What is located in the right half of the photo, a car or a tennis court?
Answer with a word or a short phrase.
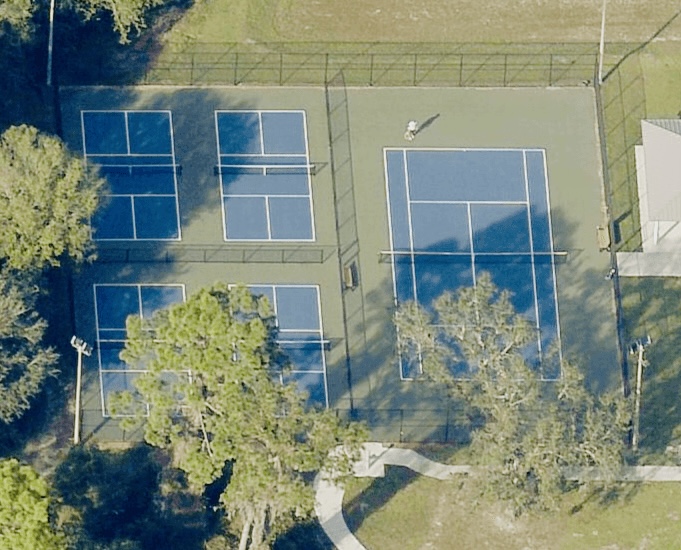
tennis court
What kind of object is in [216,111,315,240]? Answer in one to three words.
sports court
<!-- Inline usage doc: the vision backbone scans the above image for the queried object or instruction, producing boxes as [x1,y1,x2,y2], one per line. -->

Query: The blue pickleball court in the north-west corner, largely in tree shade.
[82,110,180,239]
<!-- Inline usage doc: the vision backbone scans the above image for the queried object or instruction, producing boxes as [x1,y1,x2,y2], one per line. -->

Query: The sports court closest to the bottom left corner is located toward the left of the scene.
[94,285,194,416]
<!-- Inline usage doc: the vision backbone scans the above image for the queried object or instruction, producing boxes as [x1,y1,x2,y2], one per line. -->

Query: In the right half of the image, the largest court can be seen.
[384,149,564,379]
